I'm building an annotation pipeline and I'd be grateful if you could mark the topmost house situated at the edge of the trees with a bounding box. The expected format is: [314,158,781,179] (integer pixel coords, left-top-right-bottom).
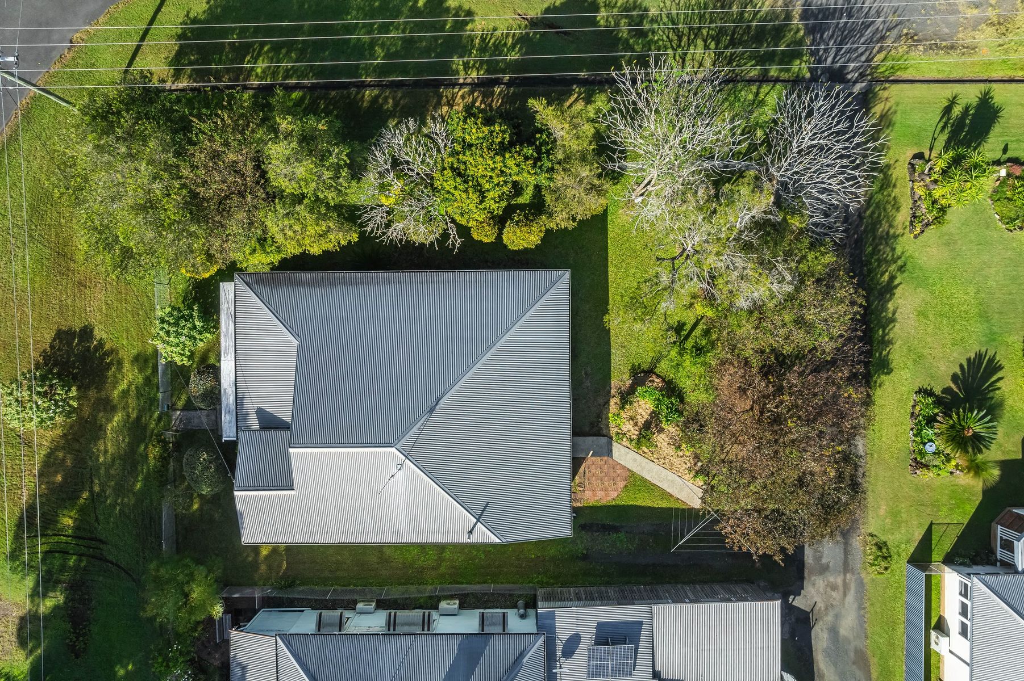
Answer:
[219,268,574,545]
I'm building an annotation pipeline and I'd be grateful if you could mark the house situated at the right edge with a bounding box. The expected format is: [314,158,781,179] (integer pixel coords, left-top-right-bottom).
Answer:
[937,508,1024,681]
